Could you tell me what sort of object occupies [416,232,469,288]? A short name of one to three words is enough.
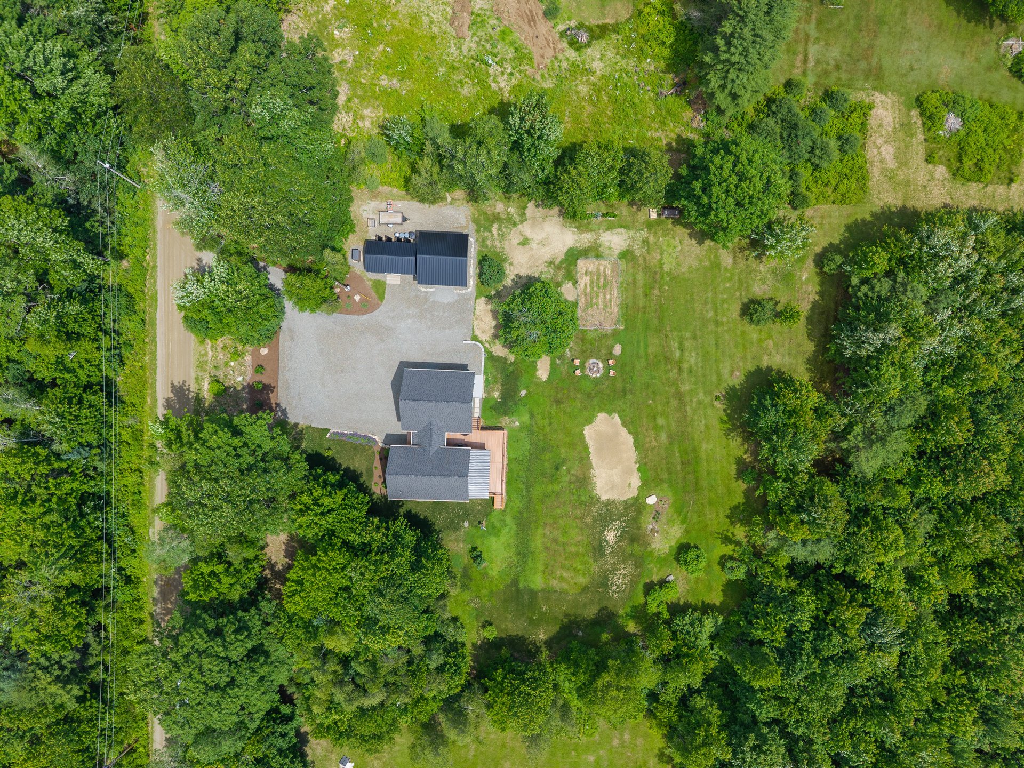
shed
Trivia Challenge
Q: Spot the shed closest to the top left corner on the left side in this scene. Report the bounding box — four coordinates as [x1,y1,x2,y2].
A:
[364,241,417,275]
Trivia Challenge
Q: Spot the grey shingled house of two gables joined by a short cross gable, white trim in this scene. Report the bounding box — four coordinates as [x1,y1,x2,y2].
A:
[386,367,491,503]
